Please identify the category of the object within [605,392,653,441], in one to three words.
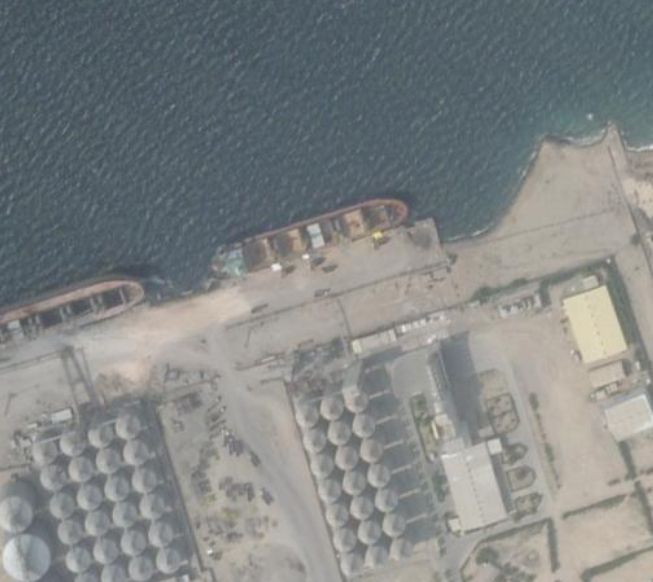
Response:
building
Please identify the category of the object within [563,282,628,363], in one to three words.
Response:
building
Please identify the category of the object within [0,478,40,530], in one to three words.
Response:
storage tank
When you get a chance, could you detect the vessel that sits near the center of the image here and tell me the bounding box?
[210,197,409,280]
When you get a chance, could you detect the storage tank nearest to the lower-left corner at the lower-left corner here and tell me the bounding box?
[3,517,56,579]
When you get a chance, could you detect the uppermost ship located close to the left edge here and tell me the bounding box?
[0,278,144,356]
